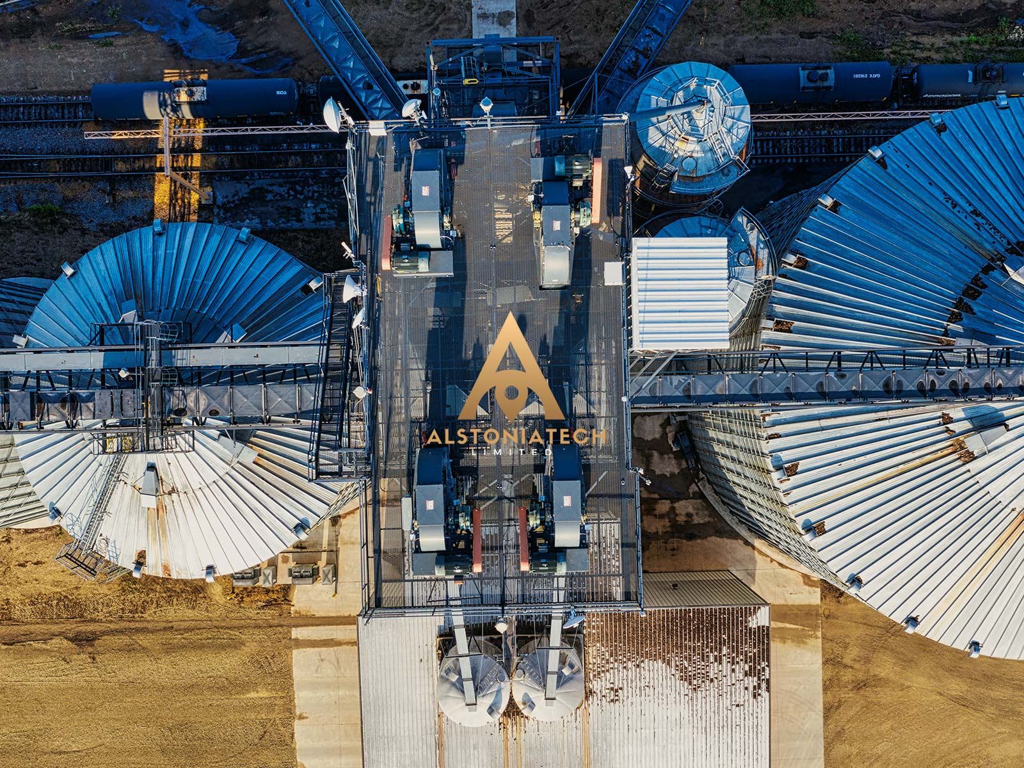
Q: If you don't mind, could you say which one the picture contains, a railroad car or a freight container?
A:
railroad car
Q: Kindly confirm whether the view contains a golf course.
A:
No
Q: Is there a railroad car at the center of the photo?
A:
No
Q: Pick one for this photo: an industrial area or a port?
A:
industrial area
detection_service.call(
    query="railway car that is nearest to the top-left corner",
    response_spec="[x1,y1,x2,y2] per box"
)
[91,72,312,128]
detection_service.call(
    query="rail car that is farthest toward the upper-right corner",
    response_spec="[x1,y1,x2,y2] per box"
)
[894,51,1024,108]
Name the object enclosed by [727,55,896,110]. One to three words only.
rail car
